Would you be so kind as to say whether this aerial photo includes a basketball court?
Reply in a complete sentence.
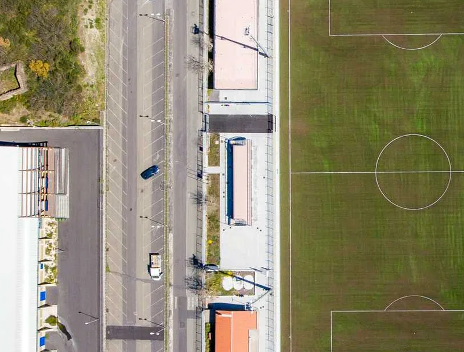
No, I find no basketball court anywhere in the image.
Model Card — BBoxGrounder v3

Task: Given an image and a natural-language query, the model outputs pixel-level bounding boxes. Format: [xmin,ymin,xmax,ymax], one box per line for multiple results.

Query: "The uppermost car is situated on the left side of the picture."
[139,166,159,179]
